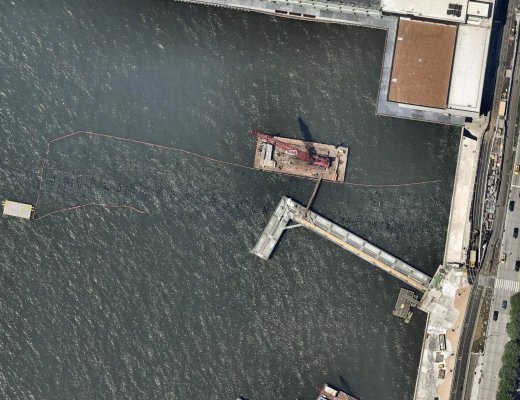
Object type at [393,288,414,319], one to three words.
pier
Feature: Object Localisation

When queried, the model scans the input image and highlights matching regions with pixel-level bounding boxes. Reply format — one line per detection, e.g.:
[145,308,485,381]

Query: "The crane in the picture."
[250,129,335,170]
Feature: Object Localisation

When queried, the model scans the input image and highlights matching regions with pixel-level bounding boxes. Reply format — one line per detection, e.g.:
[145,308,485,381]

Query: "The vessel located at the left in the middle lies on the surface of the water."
[2,200,35,219]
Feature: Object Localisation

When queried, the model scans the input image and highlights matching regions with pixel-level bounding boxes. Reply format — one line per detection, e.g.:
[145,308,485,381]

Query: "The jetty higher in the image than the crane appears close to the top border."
[169,0,481,127]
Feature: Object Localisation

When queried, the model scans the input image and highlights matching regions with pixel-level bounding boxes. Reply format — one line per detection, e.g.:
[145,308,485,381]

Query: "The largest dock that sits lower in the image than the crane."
[254,196,432,292]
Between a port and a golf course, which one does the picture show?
port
